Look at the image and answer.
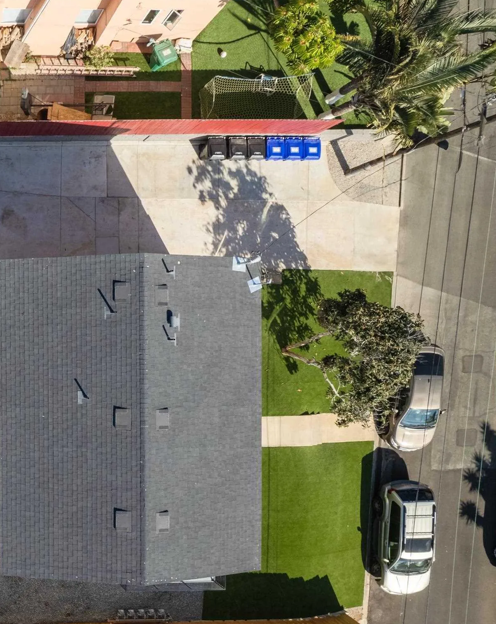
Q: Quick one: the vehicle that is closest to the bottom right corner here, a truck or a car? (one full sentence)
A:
I'd say the vehicle that is closest to the bottom right corner is a car.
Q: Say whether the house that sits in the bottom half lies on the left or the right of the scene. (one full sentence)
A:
You can find the house that sits in the bottom half on the left side of the picture.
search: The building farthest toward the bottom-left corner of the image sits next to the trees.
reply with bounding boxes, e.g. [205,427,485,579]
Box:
[0,253,262,586]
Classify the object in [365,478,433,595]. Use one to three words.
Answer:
car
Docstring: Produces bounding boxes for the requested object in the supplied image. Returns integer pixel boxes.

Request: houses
[0,253,262,586]
[0,0,229,57]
